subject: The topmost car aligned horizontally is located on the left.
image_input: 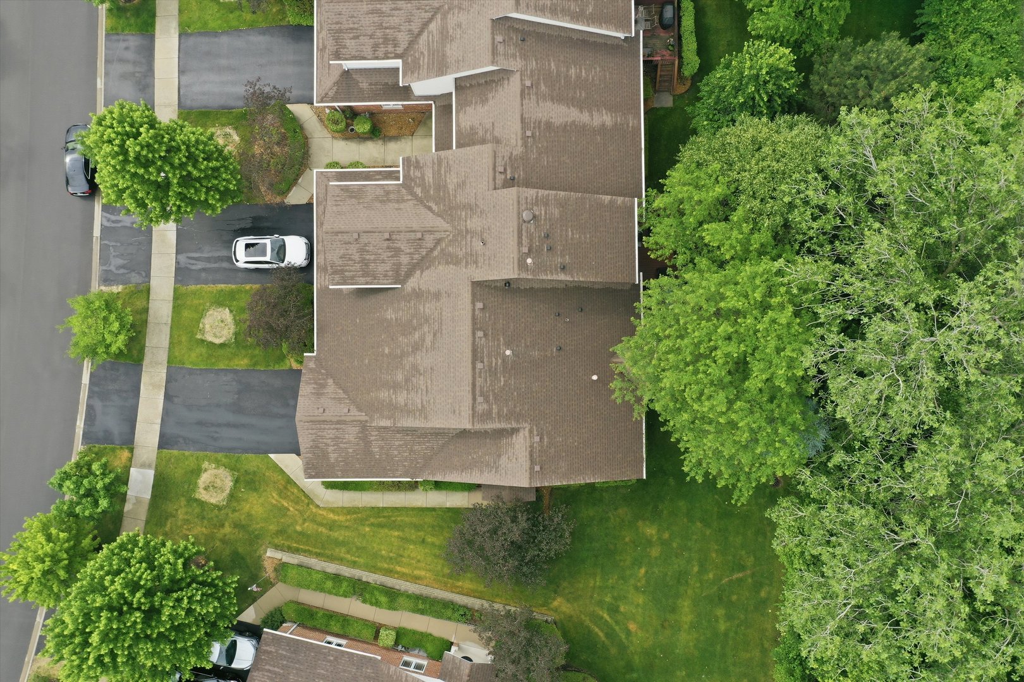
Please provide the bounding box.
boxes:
[234,233,312,270]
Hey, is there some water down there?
No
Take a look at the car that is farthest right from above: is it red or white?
white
